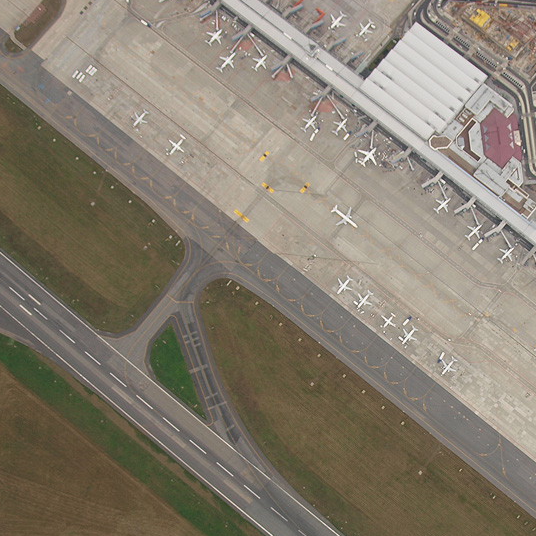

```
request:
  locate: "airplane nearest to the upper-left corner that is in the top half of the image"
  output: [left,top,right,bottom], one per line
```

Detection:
[133,108,150,127]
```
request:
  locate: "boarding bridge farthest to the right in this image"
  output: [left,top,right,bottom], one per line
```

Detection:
[521,246,536,265]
